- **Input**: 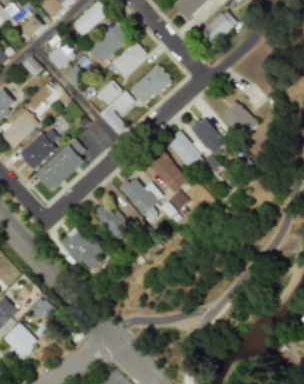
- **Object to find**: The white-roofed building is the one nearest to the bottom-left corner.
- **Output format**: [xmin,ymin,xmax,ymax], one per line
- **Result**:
[4,324,36,356]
